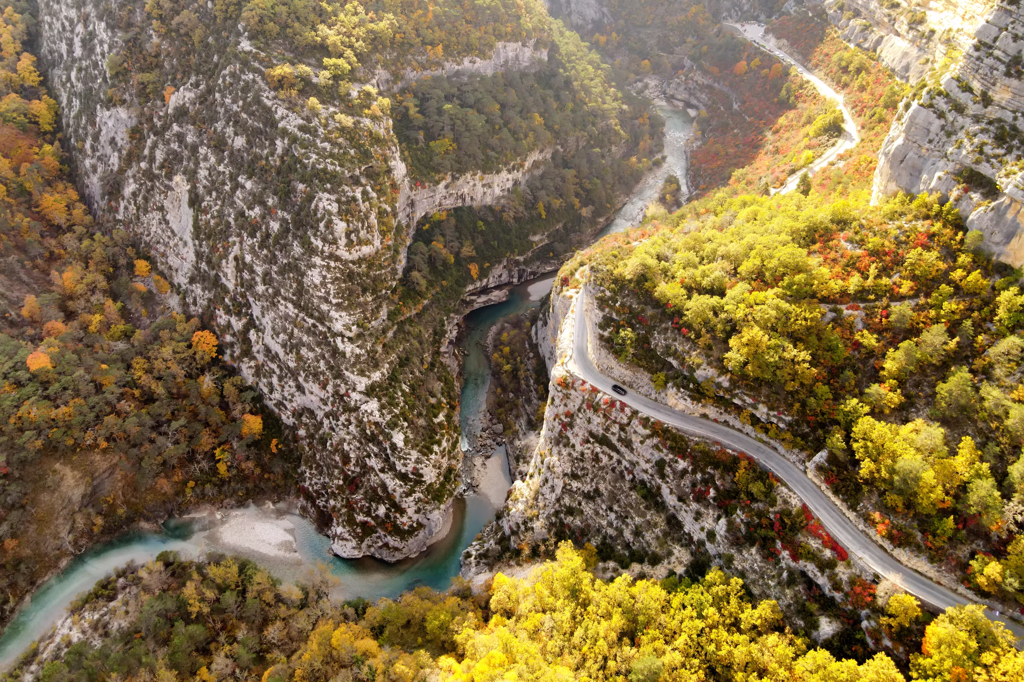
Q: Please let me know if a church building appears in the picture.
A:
No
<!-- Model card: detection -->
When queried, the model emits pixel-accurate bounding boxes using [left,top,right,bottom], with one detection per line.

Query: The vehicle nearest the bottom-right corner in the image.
[611,384,628,396]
